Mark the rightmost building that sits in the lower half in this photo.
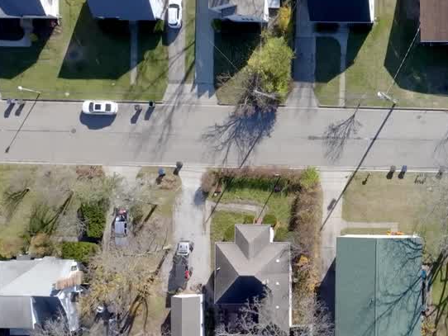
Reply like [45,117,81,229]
[335,237,423,336]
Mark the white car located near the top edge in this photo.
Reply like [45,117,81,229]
[167,0,185,31]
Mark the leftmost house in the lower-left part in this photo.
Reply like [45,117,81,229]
[0,254,85,336]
